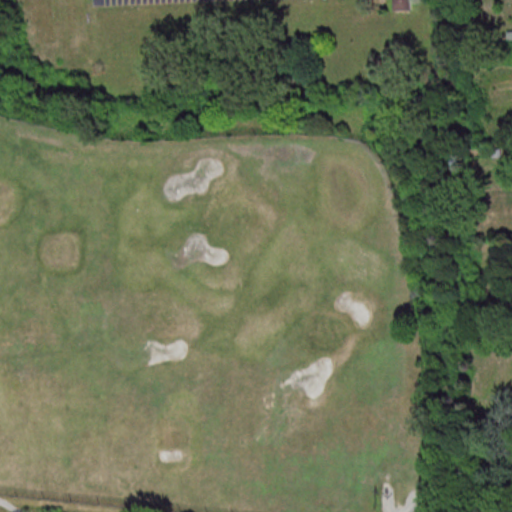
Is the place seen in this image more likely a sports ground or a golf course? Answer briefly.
golf course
